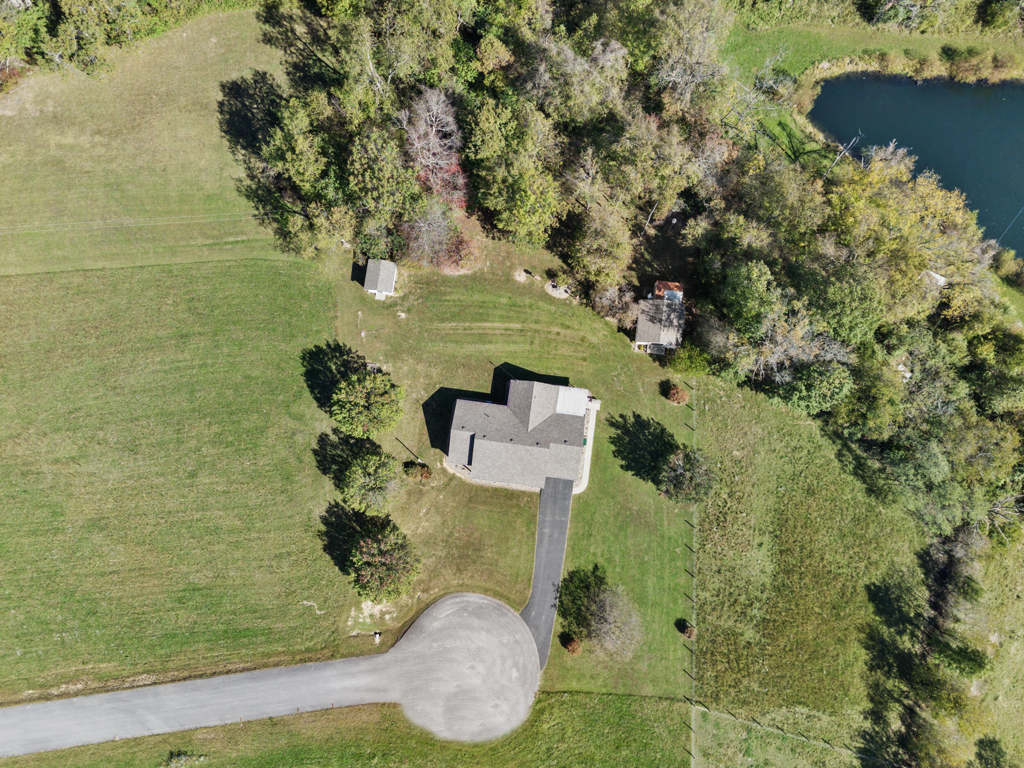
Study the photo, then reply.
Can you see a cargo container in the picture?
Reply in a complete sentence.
No, I can't see a single cargo container in this photo.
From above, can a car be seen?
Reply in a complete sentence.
No, I can see no car in this picture.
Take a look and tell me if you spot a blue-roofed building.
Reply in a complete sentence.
No, the picture doesn't show any blue-roofed building.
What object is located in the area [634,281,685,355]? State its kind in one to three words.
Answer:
building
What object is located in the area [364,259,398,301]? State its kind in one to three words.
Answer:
shed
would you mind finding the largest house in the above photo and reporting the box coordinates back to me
[447,379,588,488]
